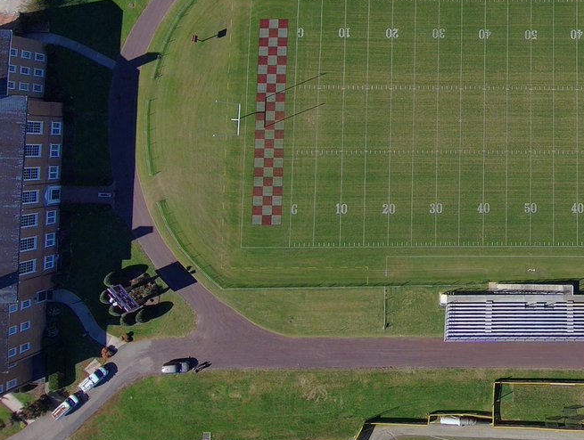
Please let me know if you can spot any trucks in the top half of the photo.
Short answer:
No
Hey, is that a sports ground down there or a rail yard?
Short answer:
sports ground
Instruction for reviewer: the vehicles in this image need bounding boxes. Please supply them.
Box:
[46,394,80,425]
[160,362,187,374]
[72,367,107,394]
